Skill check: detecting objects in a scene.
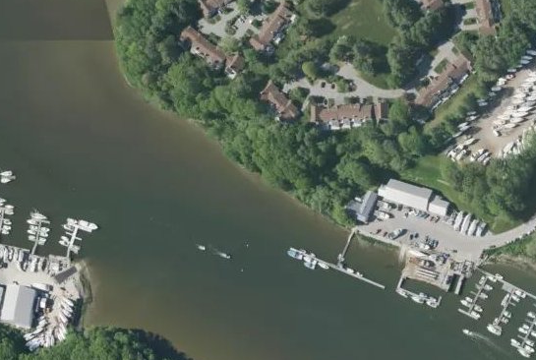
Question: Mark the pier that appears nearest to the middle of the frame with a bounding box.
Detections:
[290,230,386,288]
